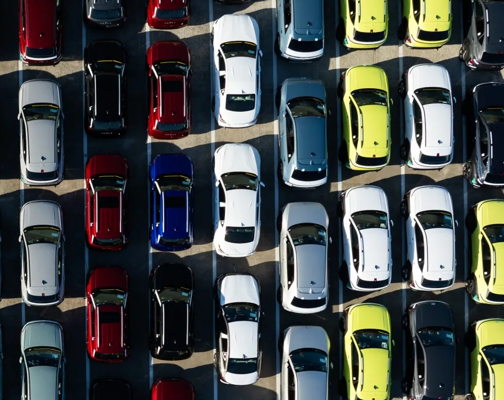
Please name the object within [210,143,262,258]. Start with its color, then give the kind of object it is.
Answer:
white car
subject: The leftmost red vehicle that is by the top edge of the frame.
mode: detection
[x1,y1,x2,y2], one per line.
[19,0,63,66]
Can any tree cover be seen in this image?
No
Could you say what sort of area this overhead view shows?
parking lot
